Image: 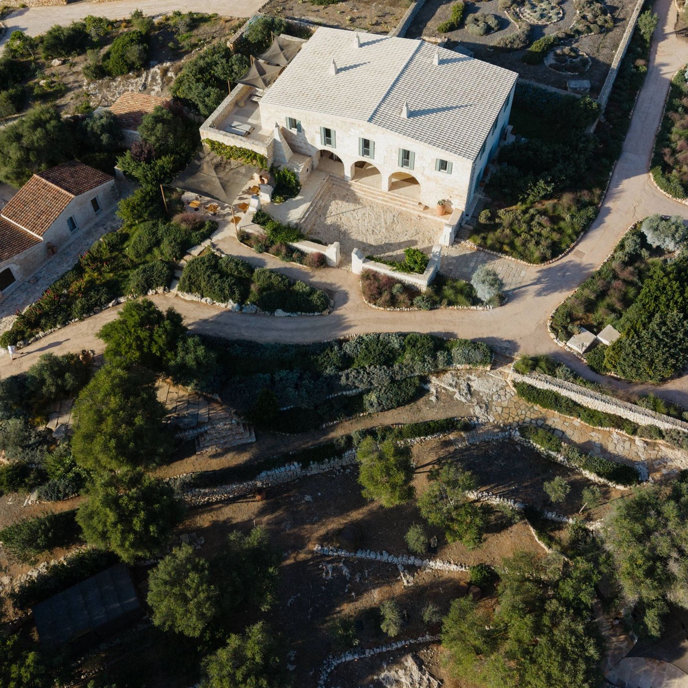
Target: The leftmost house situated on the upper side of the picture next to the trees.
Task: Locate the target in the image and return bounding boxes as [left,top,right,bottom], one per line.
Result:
[0,155,124,303]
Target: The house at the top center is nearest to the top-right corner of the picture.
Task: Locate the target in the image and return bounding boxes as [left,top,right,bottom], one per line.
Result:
[258,21,521,218]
